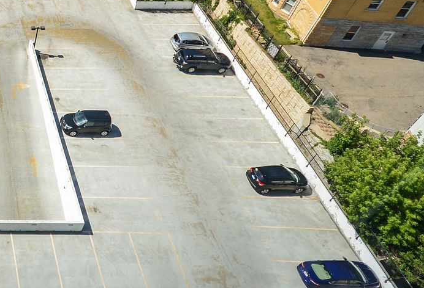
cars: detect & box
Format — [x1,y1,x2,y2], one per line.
[165,28,219,50]
[60,109,114,137]
[292,257,387,288]
[171,45,233,70]
[244,164,310,194]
